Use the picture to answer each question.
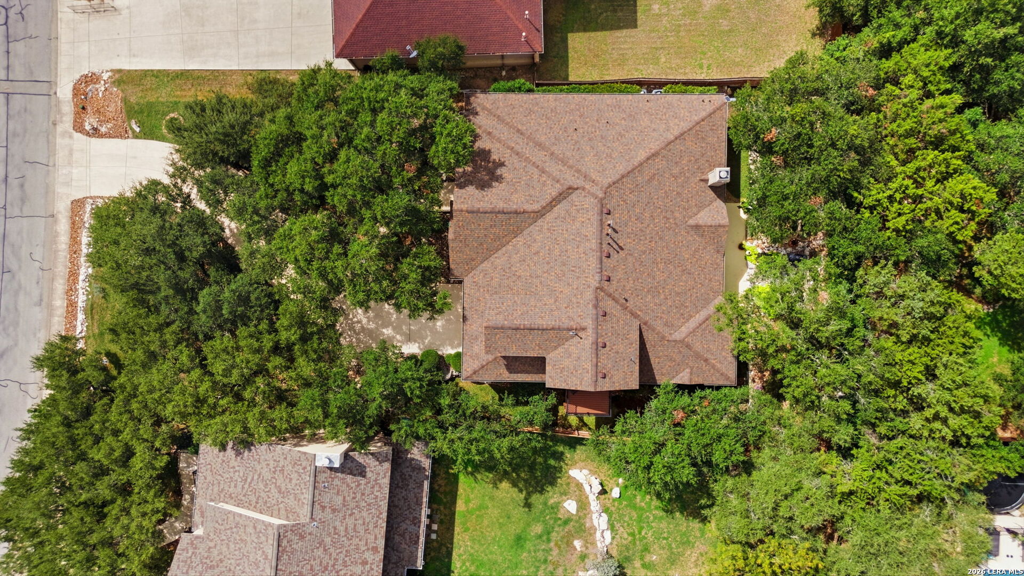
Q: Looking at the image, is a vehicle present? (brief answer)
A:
No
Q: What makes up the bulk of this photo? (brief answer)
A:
trees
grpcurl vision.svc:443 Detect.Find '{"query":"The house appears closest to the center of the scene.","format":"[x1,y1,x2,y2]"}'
[448,92,738,391]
